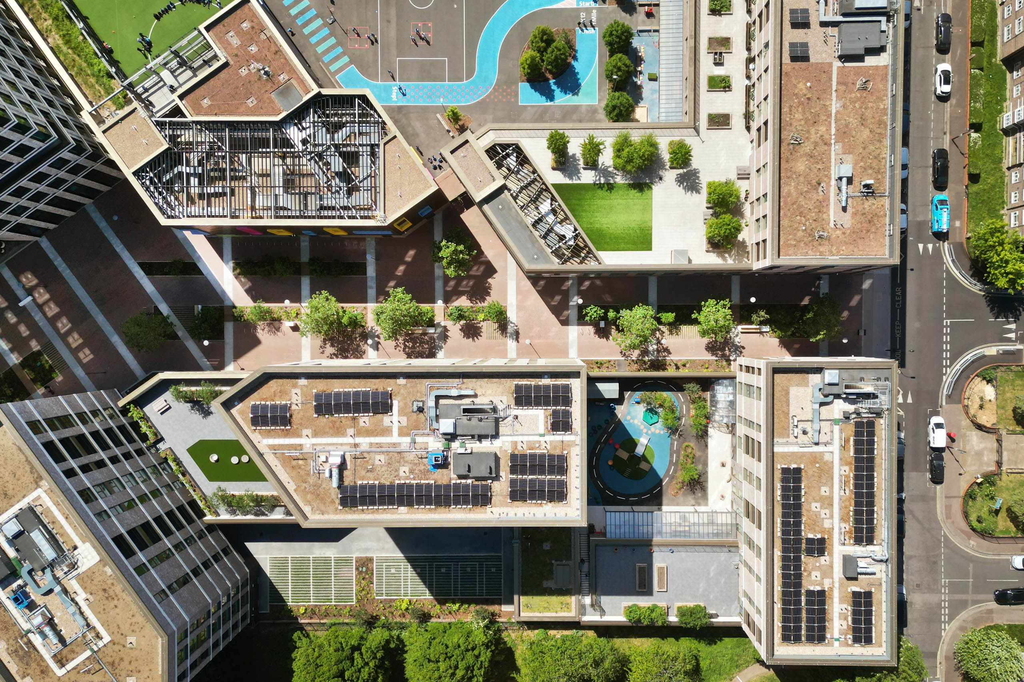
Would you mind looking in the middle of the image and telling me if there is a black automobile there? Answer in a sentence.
No, no black automobile appears in the middle of the image.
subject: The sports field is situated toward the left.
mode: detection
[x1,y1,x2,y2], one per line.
[67,0,235,87]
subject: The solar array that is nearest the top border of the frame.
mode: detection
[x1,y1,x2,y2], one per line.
[788,7,810,23]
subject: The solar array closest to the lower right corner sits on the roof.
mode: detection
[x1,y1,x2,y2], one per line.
[847,588,875,645]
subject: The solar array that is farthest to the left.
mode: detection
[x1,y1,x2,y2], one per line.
[250,400,292,430]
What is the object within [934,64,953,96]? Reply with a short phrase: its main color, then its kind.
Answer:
white car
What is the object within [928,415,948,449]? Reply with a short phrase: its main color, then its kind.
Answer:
white vehicle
